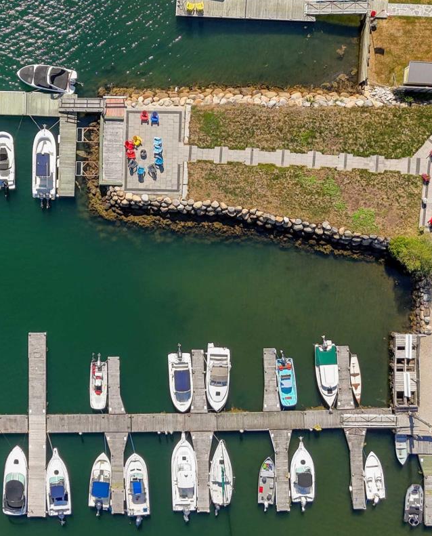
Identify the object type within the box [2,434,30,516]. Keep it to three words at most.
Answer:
boat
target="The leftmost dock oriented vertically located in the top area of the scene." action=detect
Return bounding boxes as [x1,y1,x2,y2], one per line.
[57,117,77,197]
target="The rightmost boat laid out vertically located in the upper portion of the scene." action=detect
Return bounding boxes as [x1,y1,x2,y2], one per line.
[30,115,60,210]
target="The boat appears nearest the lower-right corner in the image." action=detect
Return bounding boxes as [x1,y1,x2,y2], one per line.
[406,484,425,528]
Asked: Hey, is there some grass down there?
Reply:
Yes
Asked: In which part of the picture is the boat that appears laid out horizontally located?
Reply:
top left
